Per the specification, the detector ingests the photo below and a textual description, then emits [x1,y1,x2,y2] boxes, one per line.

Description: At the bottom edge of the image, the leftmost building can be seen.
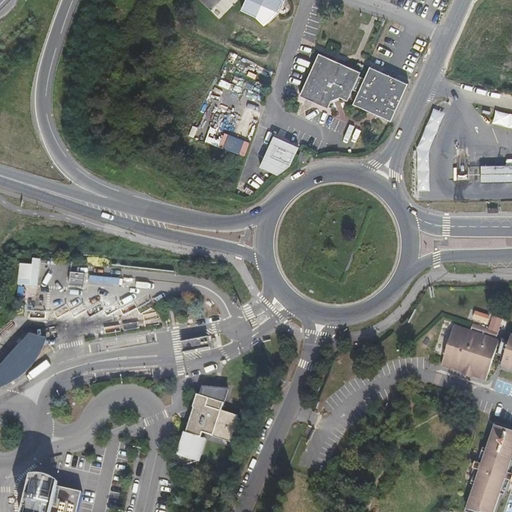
[18,468,60,512]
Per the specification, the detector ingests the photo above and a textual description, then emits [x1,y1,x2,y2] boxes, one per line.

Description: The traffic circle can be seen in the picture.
[254,164,418,324]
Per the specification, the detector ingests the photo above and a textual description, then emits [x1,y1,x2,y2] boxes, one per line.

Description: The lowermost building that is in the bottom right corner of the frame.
[464,424,512,512]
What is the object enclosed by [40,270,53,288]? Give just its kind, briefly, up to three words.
vehicle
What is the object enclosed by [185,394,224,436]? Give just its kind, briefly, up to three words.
building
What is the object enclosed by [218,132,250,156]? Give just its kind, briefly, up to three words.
shed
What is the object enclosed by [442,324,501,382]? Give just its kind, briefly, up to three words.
house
